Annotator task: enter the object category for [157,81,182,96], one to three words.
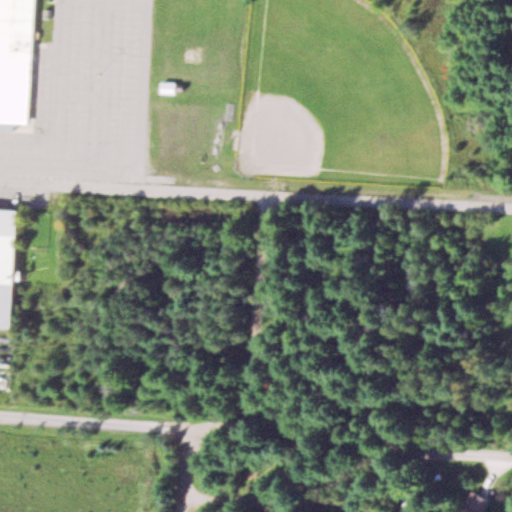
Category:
shed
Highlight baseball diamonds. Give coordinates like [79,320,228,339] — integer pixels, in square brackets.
[238,0,446,184]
